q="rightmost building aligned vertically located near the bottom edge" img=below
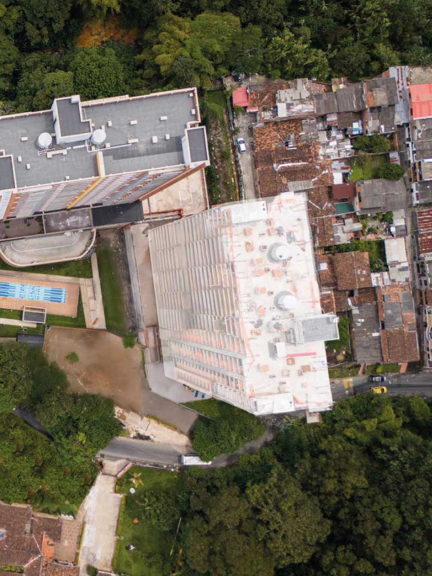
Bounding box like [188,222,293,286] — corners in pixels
[56,518,82,563]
